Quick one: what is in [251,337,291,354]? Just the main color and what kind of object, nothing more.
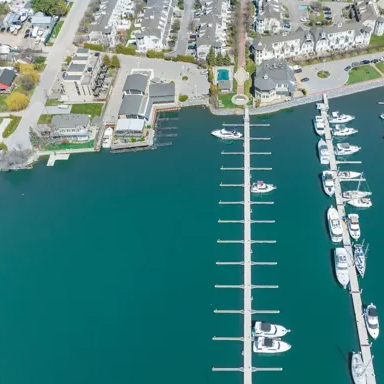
white boat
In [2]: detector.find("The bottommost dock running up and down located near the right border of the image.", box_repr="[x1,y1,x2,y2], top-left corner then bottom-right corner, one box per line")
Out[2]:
[317,102,376,384]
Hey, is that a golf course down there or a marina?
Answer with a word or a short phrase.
marina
